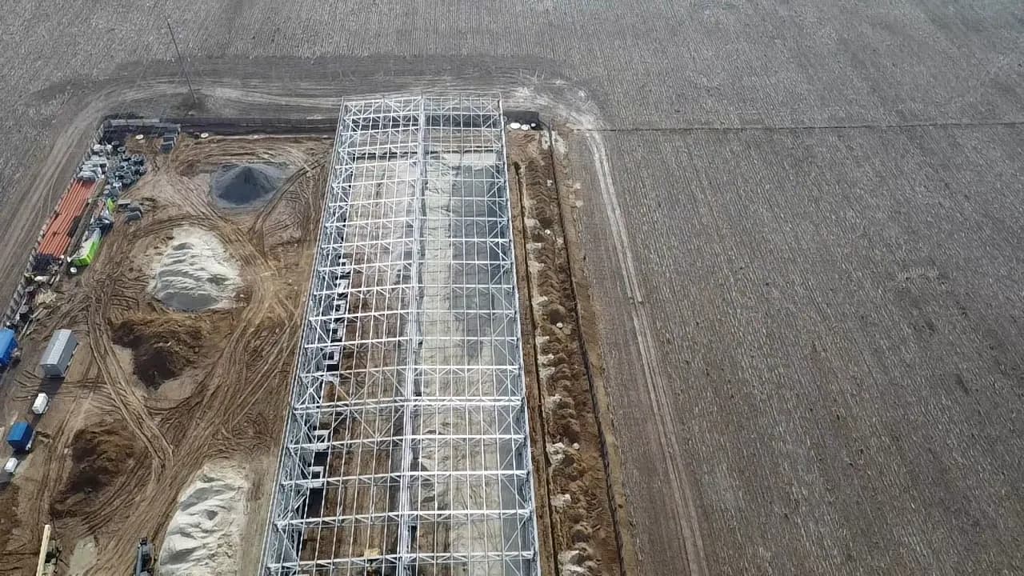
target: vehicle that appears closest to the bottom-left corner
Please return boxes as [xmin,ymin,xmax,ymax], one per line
[29,518,66,576]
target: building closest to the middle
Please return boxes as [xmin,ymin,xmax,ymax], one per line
[252,90,540,576]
